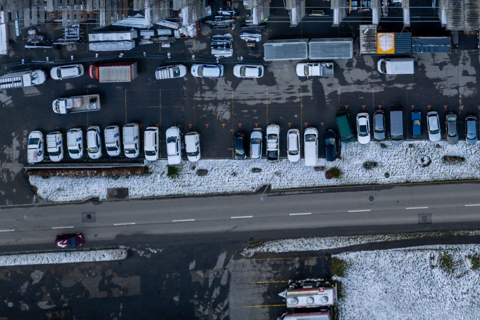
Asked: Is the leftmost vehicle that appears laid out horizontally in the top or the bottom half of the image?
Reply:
top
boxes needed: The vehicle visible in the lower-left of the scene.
[54,232,85,249]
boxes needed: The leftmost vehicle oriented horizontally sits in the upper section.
[0,69,45,90]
